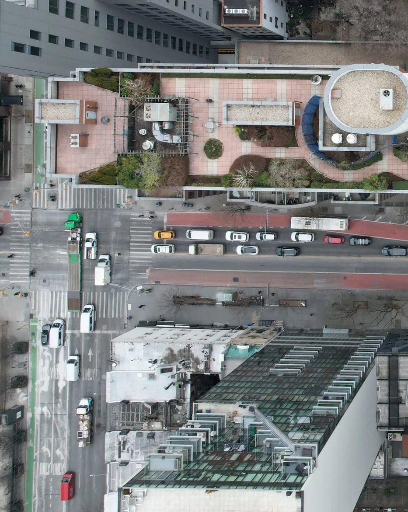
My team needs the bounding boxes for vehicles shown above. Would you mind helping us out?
[82,306,95,329]
[278,246,299,256]
[187,230,214,240]
[94,255,110,286]
[350,236,371,246]
[290,217,348,230]
[68,357,80,380]
[385,246,406,256]
[39,324,50,346]
[60,472,75,503]
[154,230,175,240]
[49,319,65,348]
[152,244,174,254]
[293,232,314,242]
[229,232,249,242]
[190,243,221,256]
[84,233,97,258]
[325,235,343,244]
[78,400,93,449]
[65,210,82,309]
[256,232,278,241]
[237,245,259,255]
